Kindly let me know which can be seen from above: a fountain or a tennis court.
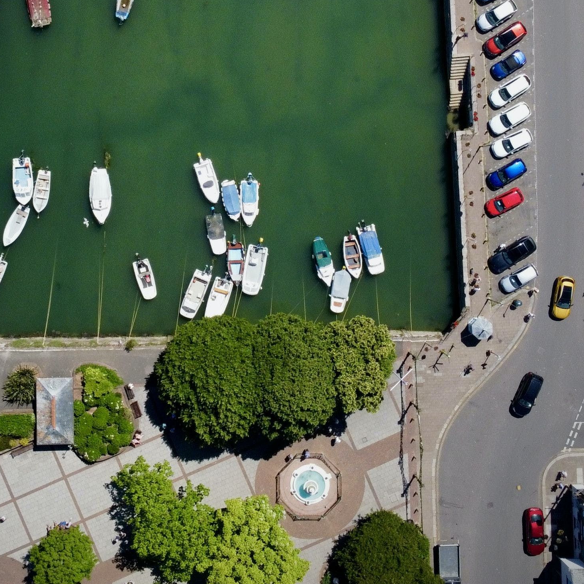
fountain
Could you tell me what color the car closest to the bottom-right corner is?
red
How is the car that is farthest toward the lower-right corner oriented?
vertically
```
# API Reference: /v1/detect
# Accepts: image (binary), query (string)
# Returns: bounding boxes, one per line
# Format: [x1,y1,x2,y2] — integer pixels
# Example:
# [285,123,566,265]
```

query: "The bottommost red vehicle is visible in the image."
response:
[525,507,549,556]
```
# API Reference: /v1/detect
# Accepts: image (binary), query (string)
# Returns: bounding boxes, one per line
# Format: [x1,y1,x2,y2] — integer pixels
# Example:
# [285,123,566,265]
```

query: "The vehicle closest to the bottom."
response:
[438,543,465,584]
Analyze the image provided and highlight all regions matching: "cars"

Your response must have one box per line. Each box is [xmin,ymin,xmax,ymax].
[488,72,534,107]
[491,127,535,160]
[476,0,520,31]
[488,235,540,274]
[508,371,543,418]
[486,159,530,191]
[499,262,542,294]
[550,276,577,319]
[483,21,529,58]
[525,507,549,556]
[491,49,529,79]
[488,100,534,135]
[485,188,527,219]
